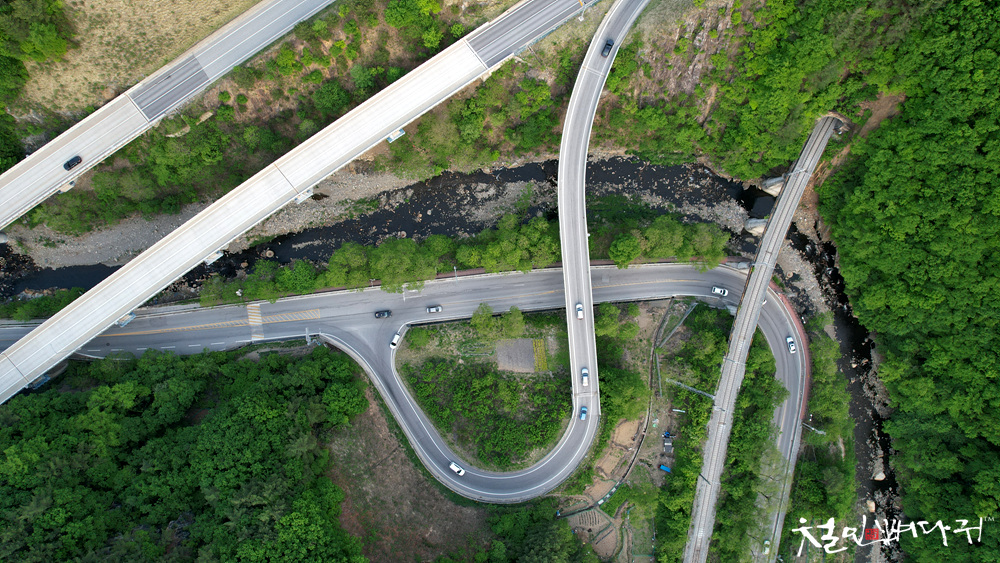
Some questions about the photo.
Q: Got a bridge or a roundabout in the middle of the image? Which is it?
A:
bridge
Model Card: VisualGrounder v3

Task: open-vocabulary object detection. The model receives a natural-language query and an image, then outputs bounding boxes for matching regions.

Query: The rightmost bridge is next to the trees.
[712,123,838,405]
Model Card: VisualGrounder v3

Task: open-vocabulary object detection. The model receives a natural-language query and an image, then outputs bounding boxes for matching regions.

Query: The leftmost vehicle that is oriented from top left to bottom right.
[449,462,466,476]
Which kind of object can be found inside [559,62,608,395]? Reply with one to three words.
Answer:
bridge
